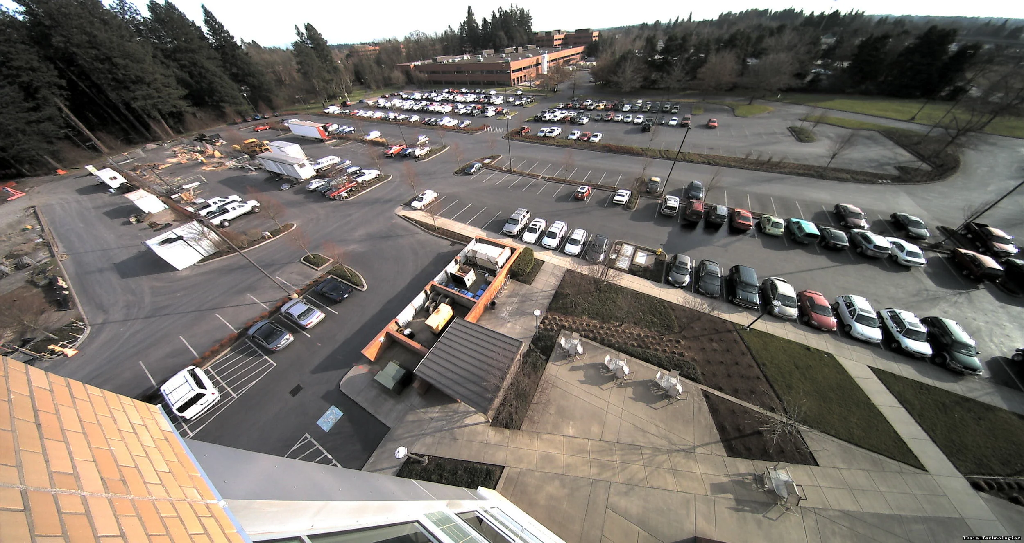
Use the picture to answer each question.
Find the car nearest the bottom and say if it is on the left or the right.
left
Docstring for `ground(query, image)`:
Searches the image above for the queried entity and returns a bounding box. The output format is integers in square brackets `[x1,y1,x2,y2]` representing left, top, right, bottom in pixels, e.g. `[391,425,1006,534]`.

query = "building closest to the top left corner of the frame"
[134,219,226,268]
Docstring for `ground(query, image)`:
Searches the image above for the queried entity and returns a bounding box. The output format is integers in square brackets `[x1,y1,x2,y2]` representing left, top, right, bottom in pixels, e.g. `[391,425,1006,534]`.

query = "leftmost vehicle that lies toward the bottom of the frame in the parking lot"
[158,367,223,419]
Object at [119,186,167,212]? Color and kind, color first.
white trailer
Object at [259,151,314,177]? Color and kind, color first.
white trailer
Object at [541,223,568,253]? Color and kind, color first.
white car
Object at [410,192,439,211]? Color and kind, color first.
white car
